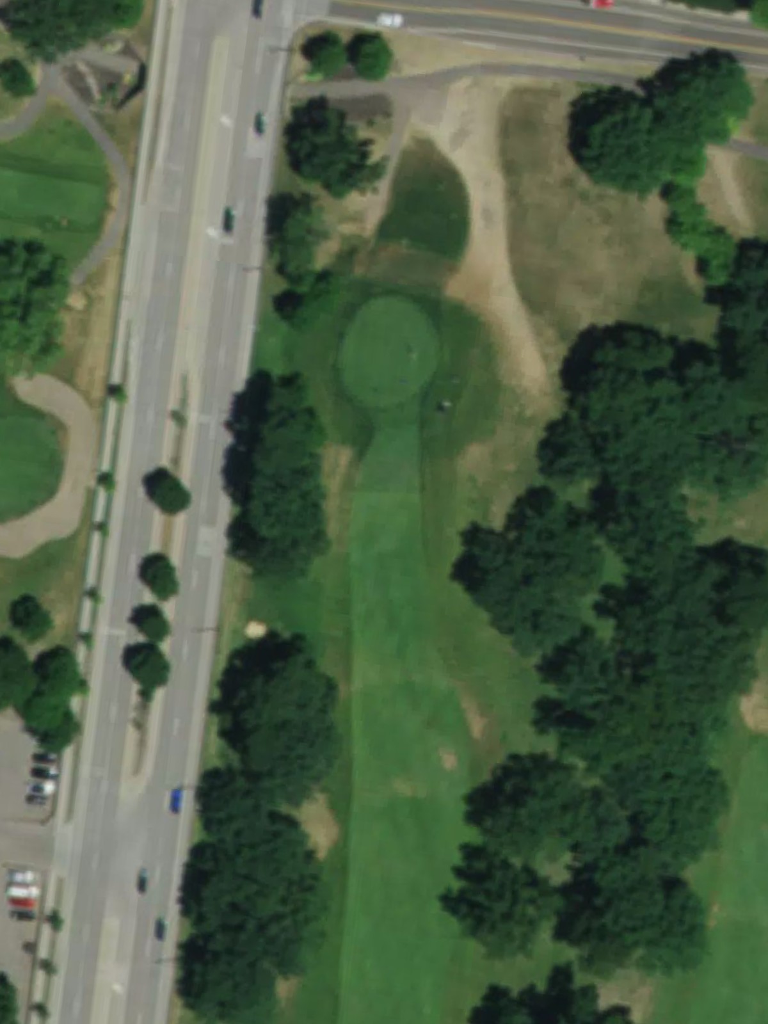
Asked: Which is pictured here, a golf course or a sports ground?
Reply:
golf course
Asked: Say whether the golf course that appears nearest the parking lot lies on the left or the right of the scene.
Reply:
left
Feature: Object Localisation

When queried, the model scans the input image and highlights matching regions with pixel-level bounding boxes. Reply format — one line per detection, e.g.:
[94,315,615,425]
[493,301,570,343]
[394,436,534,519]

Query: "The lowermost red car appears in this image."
[8,897,35,910]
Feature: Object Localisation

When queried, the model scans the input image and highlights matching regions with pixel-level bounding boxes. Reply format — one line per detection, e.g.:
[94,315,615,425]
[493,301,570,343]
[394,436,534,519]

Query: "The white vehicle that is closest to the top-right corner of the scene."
[376,14,404,27]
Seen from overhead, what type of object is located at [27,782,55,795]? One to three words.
vehicle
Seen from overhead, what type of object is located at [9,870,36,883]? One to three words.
vehicle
